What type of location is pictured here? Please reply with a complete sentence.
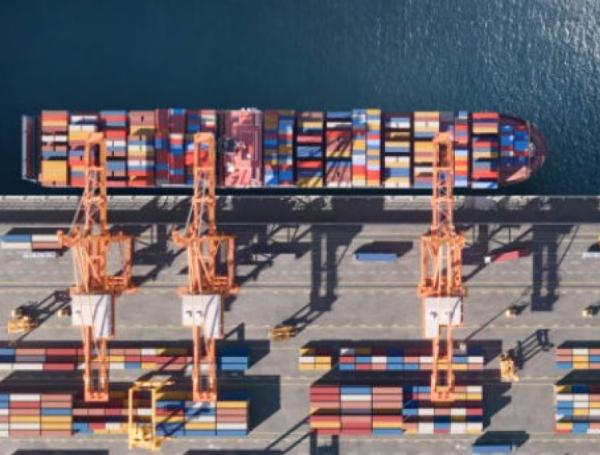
The area seen from above is a port.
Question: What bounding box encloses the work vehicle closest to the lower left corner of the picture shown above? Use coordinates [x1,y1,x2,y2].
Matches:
[9,316,40,331]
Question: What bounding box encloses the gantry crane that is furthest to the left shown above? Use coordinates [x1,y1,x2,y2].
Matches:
[59,134,148,402]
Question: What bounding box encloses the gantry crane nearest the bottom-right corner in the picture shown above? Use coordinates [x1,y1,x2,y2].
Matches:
[411,134,471,402]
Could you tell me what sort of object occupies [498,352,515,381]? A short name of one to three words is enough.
work vehicle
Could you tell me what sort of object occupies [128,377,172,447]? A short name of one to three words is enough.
container crane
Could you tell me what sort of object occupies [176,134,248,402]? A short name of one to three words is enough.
container crane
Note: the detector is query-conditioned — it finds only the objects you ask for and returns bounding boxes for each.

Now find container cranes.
[176,134,248,402]
[411,134,471,402]
[59,134,148,402]
[128,377,172,447]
